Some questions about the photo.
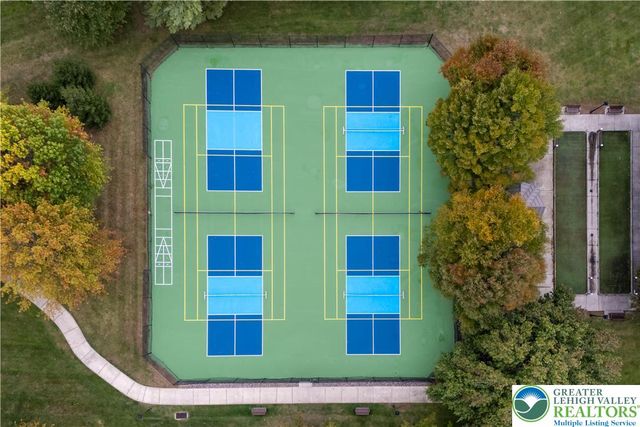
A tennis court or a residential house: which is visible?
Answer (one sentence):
This aerial view contains a tennis court.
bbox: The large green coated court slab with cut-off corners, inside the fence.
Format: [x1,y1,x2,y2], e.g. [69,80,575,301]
[148,43,458,383]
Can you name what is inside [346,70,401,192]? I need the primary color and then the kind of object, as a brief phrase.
blue sports court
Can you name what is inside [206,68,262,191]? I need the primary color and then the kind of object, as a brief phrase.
blue sports court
